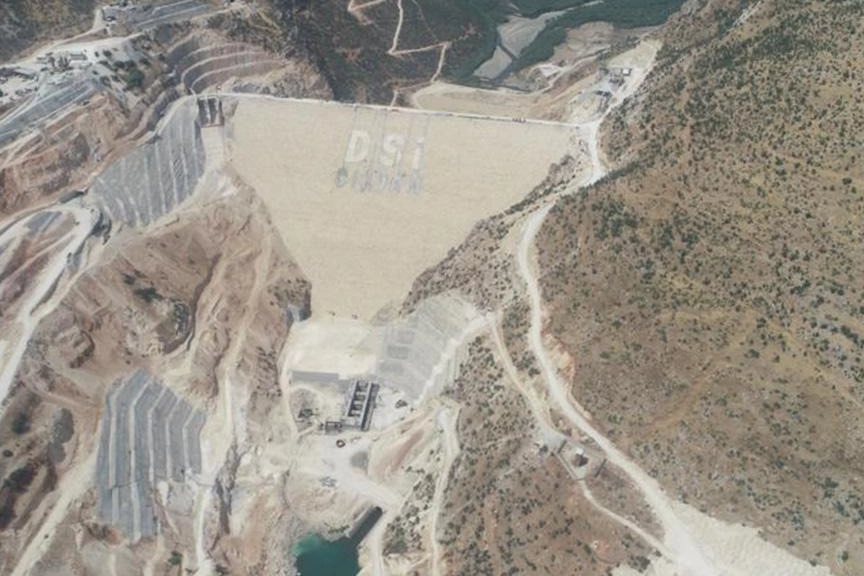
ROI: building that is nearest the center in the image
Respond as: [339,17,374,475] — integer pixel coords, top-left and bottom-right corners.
[342,380,377,441]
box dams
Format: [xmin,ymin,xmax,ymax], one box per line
[214,94,597,319]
